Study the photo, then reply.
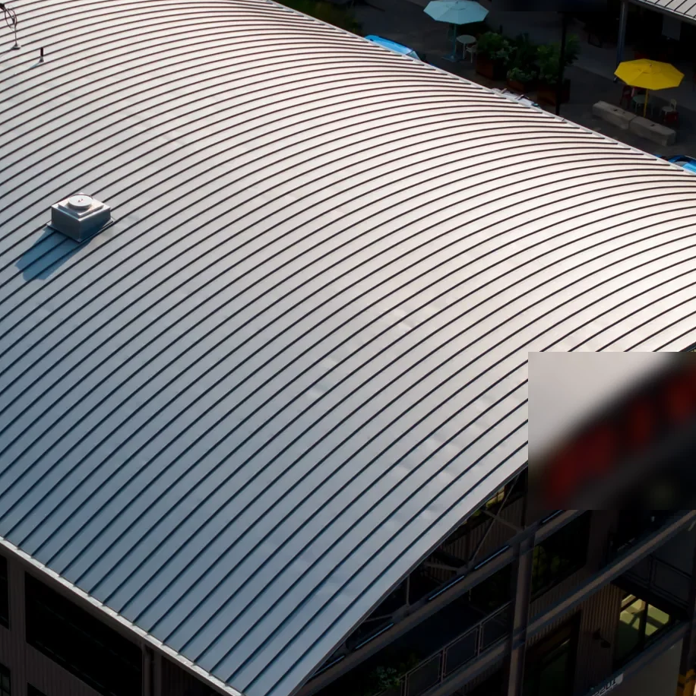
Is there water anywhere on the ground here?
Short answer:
No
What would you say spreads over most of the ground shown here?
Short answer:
buildings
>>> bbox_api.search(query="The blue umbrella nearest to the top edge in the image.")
[425,0,488,62]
